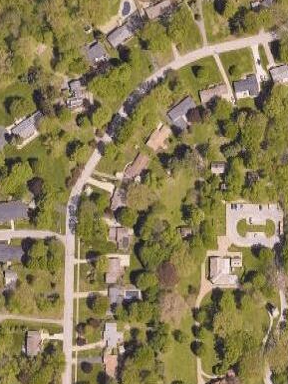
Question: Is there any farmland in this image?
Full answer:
No, there is no farmland in the image.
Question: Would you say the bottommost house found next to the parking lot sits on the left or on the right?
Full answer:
It is on the right.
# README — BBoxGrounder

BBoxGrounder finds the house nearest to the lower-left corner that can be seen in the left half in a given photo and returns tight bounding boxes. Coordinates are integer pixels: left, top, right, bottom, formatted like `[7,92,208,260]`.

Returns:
[26,330,41,355]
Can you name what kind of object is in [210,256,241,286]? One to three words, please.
house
